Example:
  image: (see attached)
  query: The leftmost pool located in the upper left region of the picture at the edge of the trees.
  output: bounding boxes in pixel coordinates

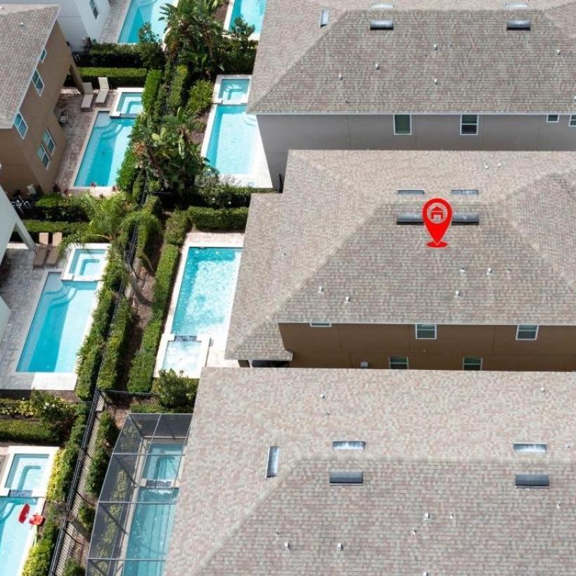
[67,87,144,189]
